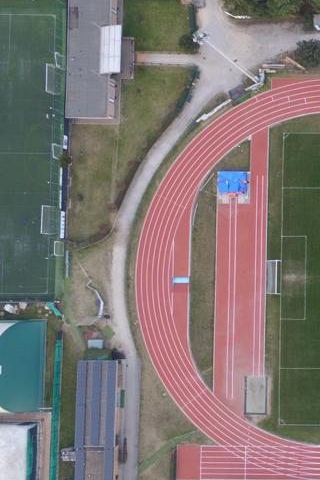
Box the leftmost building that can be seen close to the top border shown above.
[65,0,119,121]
